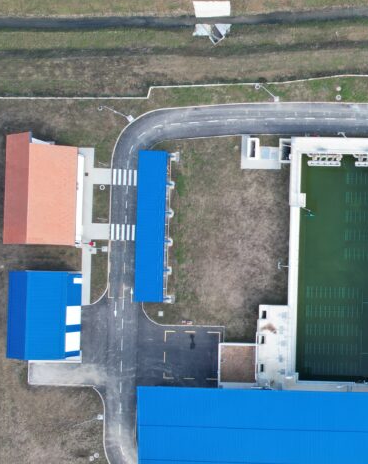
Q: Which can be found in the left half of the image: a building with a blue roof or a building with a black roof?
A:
building with a blue roof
